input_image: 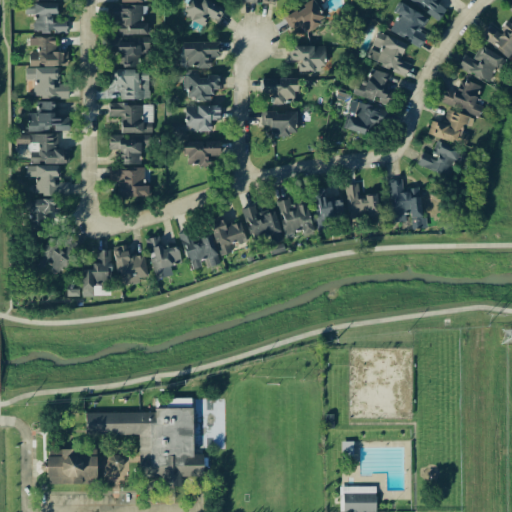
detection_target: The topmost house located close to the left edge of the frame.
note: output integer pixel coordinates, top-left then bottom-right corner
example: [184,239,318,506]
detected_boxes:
[25,4,68,34]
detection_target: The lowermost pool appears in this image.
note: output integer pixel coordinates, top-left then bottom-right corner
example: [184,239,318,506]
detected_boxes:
[342,438,411,498]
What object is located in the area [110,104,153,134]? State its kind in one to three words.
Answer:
house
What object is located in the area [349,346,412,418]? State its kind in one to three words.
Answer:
sports court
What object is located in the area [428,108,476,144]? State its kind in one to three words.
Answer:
house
